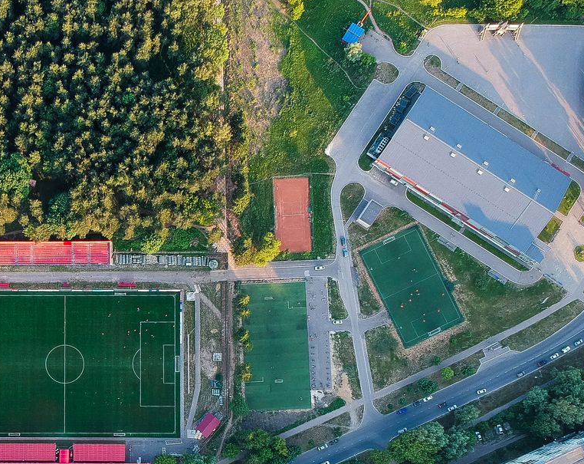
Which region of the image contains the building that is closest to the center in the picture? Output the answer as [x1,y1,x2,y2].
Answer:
[354,199,383,230]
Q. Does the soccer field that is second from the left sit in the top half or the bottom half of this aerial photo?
bottom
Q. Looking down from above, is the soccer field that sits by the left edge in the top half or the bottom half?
bottom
